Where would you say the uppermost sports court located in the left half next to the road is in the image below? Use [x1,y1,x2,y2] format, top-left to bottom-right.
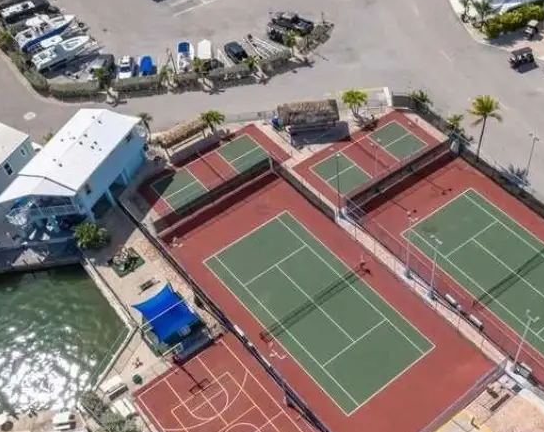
[126,124,294,233]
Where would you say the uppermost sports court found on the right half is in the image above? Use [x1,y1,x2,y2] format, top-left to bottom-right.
[293,107,438,209]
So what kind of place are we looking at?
sports ground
